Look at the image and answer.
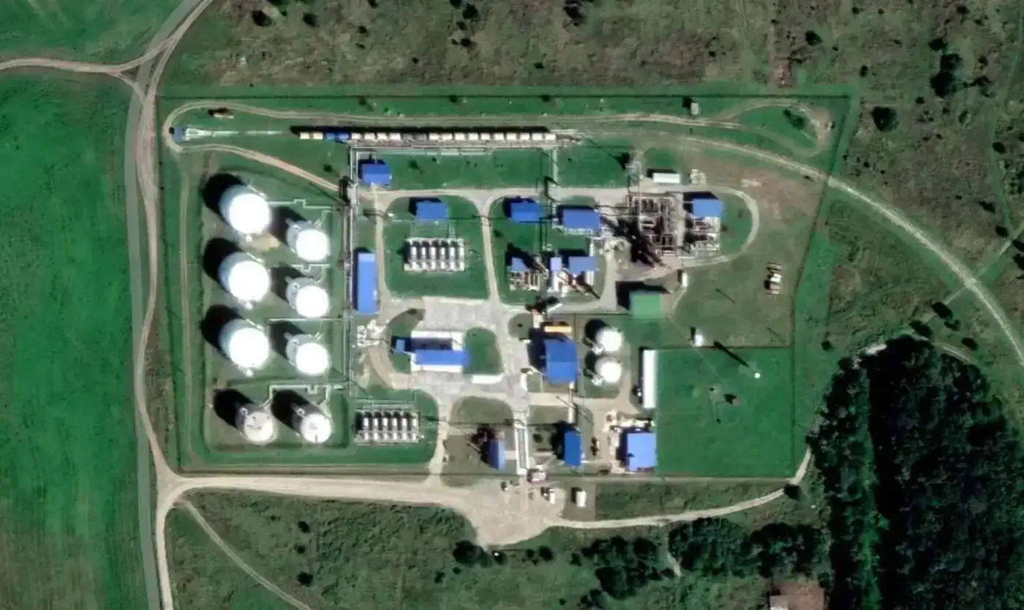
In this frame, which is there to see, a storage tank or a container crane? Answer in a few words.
storage tank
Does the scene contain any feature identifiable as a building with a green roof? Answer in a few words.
Yes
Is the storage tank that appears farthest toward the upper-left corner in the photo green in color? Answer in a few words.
No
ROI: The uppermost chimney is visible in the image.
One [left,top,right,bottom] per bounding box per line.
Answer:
[572,275,602,298]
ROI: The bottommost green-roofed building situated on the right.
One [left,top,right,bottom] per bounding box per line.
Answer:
[626,288,664,317]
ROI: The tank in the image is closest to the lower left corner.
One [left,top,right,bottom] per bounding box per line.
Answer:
[232,400,274,443]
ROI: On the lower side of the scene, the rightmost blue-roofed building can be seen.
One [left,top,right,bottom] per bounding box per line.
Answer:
[623,429,657,472]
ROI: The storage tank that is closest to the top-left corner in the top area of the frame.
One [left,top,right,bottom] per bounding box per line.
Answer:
[220,182,270,243]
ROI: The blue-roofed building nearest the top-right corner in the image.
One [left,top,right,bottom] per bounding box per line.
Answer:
[687,195,722,217]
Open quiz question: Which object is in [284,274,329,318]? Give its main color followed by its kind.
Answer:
white storage tank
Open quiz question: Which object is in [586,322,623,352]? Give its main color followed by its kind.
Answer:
white water tank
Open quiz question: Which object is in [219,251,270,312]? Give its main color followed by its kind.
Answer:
white storage tank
